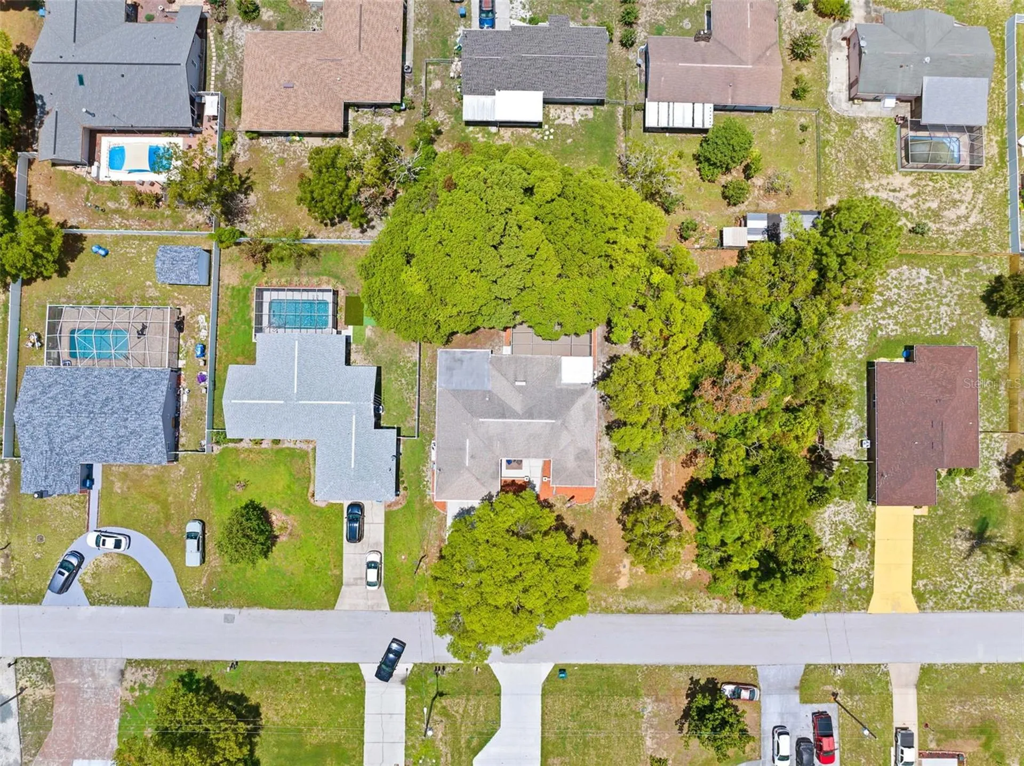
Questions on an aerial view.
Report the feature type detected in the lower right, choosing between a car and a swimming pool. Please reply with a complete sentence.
The one visible in the lower right is a car.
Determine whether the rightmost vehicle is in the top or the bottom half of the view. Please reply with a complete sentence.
The rightmost vehicle is in the bottom half of the image.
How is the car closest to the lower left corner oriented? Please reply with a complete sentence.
In this picture, the car closest to the lower left corner is oriented diagonally.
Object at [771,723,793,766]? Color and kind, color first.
white car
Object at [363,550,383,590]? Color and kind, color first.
white car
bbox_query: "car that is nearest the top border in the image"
[476,0,496,28]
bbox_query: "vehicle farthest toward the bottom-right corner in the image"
[892,725,919,766]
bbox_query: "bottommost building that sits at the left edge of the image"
[11,366,179,496]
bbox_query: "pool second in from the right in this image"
[256,292,337,335]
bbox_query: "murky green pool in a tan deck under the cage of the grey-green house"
[901,123,981,169]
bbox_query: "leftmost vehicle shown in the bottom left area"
[46,550,85,595]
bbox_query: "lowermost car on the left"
[376,637,406,682]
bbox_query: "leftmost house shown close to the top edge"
[26,0,209,167]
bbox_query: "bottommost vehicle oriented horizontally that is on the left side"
[88,530,132,551]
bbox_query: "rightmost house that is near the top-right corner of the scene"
[845,6,998,131]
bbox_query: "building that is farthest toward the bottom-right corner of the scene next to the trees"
[869,345,980,506]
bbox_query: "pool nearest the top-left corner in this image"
[100,137,182,180]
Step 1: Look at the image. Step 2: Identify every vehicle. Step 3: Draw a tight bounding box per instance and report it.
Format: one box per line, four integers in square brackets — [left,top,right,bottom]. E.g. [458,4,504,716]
[812,710,838,764]
[476,0,496,28]
[720,681,760,702]
[46,550,85,595]
[794,736,816,766]
[771,723,793,766]
[363,550,383,590]
[88,530,132,551]
[183,519,207,566]
[376,637,406,682]
[892,725,919,766]
[343,501,365,543]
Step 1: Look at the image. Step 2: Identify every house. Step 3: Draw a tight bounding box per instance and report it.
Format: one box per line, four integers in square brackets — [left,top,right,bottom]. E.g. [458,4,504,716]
[222,333,396,502]
[643,0,785,134]
[436,350,597,501]
[869,345,980,506]
[11,366,179,496]
[461,13,609,130]
[242,0,404,135]
[845,6,998,131]
[26,0,209,167]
